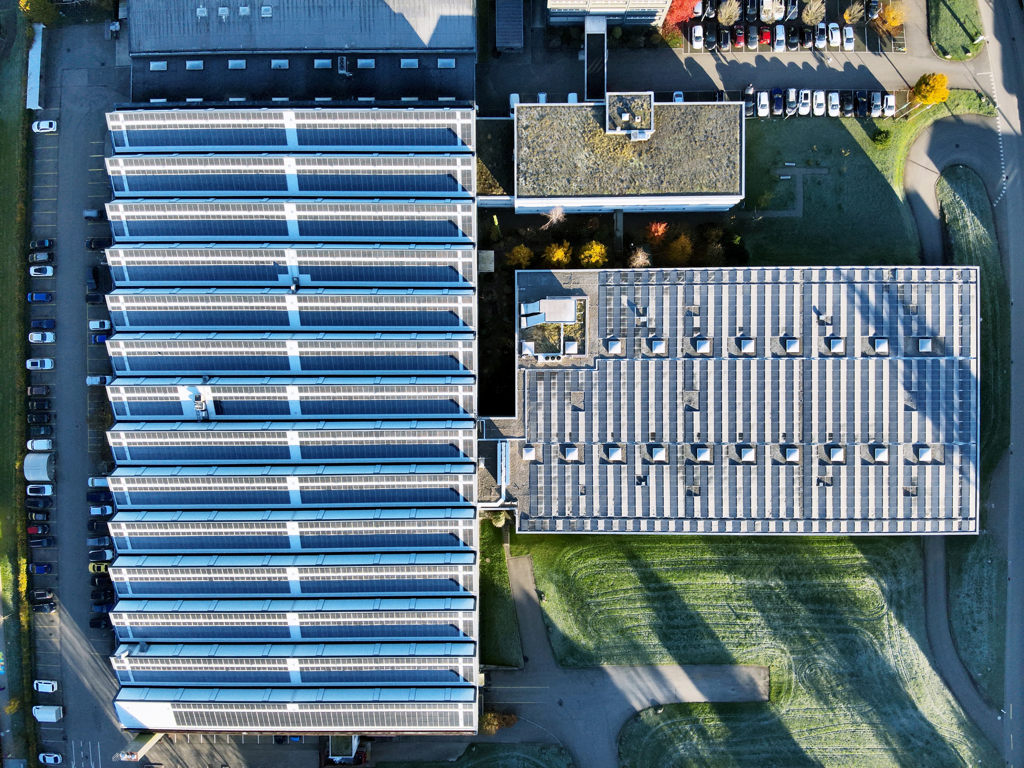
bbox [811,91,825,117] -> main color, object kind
white car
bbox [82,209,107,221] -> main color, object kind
blue vehicle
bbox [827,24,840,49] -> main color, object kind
white vehicle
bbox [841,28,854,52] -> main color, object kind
white vehicle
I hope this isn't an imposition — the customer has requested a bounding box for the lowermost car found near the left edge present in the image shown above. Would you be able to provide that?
[40,751,65,764]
